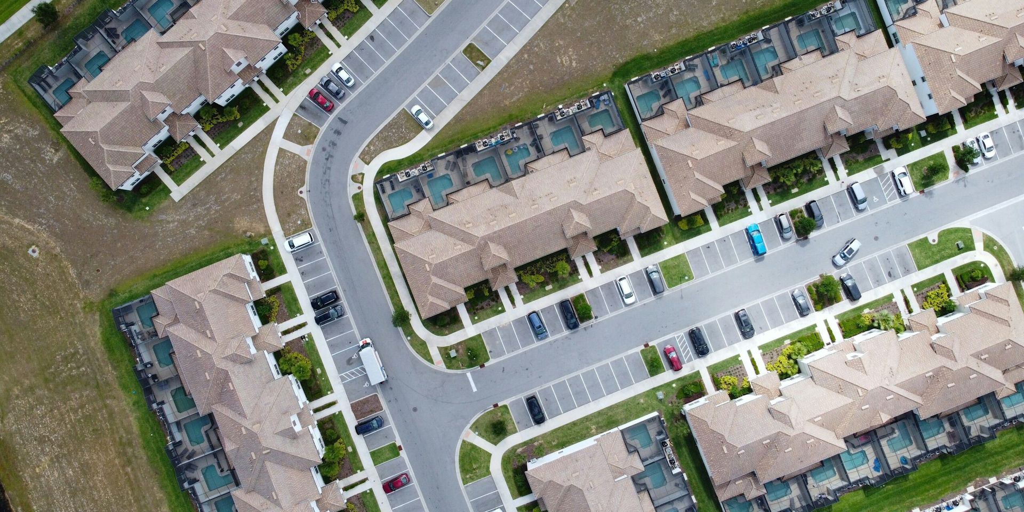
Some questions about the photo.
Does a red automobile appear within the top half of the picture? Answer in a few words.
Yes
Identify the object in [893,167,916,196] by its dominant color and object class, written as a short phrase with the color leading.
white car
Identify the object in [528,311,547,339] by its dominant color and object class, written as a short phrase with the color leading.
blue car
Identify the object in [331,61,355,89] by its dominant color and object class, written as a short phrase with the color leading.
white car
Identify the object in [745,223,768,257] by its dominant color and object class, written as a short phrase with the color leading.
blue vehicle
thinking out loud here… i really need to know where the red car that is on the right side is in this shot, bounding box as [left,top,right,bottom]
[664,344,683,372]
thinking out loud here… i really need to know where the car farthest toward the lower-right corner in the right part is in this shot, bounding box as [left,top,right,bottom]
[839,273,863,303]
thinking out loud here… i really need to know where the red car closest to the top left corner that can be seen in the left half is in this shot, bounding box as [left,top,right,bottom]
[308,87,335,113]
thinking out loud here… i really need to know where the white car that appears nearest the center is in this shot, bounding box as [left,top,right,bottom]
[616,276,635,304]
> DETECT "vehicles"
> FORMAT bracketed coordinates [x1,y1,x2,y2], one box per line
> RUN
[791,288,811,317]
[308,87,335,113]
[331,61,355,89]
[832,238,861,265]
[689,326,709,357]
[284,232,315,252]
[411,104,434,131]
[839,273,863,303]
[734,309,754,339]
[847,181,868,211]
[775,213,794,239]
[560,299,580,330]
[646,265,666,295]
[745,223,768,257]
[975,131,996,161]
[962,136,983,165]
[664,344,683,372]
[616,276,635,304]
[382,474,411,492]
[314,306,345,326]
[528,311,547,339]
[361,336,389,386]
[311,291,340,310]
[354,415,385,435]
[893,167,916,196]
[804,199,824,229]
[320,75,346,101]
[526,395,545,425]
